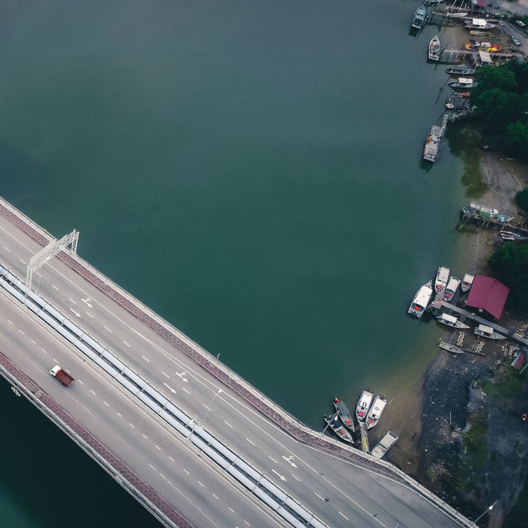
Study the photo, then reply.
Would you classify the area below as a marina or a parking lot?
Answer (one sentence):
The picture captures a marina.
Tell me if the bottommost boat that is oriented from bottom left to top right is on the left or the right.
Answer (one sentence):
The bottommost boat that is oriented from bottom left to top right is on the right side of the image.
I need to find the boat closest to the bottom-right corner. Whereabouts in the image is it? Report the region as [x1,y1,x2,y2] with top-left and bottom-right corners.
[371,428,400,458]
